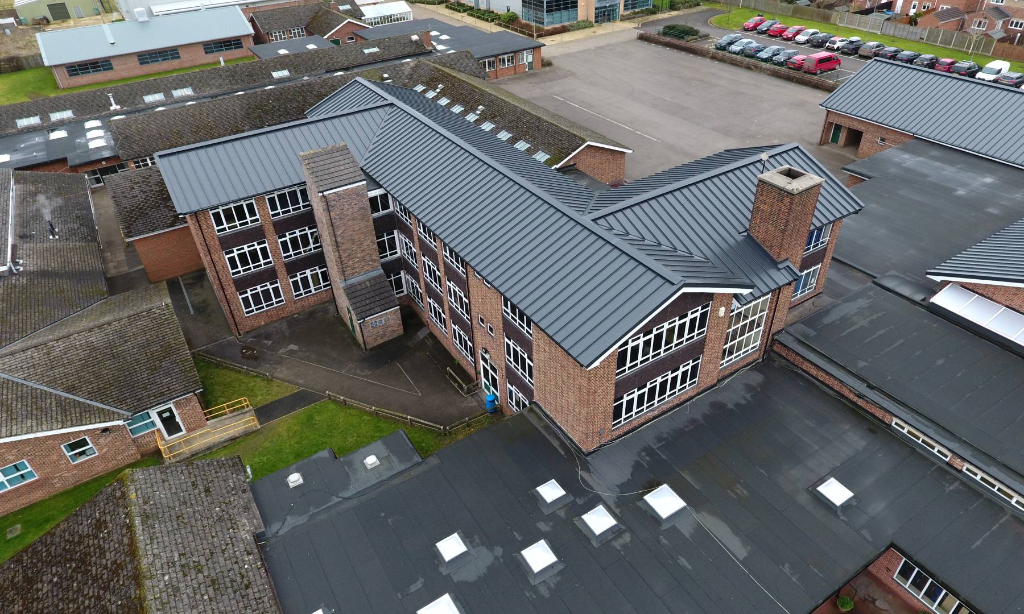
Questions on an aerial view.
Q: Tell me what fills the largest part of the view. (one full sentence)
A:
The bulk of the photo consists of buildings.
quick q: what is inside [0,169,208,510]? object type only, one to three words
building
